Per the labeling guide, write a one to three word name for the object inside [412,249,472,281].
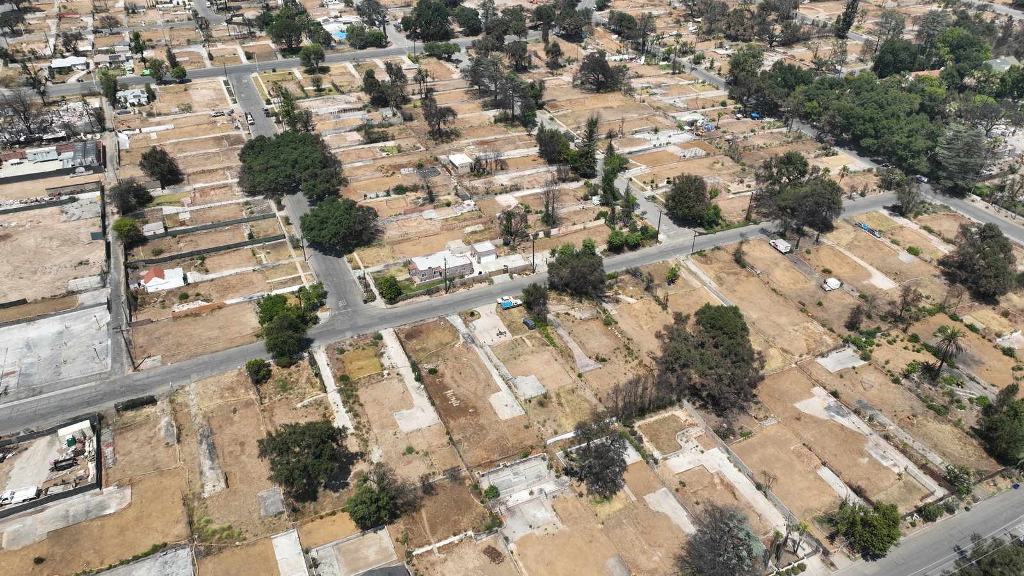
house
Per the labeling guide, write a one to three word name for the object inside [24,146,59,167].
shed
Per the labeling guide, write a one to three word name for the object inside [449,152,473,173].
building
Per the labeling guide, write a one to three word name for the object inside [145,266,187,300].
house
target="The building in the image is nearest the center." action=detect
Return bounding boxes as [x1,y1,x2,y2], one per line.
[472,239,496,260]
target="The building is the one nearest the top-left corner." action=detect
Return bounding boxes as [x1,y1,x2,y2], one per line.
[52,58,88,75]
